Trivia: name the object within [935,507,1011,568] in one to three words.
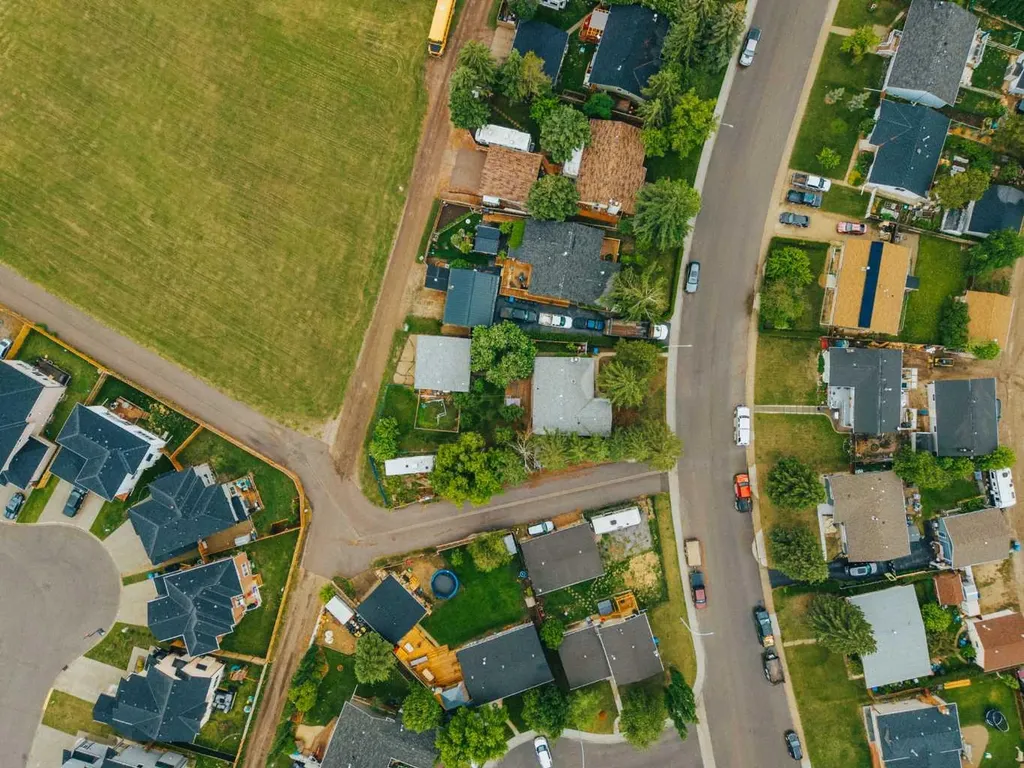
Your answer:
building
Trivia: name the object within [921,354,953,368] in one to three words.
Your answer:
work vehicle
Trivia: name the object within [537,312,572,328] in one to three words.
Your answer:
vehicle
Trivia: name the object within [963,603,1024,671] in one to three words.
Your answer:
house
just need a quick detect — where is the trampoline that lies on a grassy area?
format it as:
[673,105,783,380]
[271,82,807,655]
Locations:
[982,705,1011,732]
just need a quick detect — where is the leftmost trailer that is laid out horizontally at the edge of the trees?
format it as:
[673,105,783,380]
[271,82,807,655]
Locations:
[386,455,437,475]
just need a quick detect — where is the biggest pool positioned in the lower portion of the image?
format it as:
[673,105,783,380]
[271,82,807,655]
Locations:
[431,569,459,598]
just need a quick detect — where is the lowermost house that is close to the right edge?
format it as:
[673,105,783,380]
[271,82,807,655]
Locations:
[871,696,973,768]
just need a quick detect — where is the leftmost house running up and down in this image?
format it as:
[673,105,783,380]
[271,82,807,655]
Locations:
[0,360,62,490]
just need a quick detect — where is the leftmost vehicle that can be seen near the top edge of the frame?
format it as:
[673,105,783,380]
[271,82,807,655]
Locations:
[425,0,459,64]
